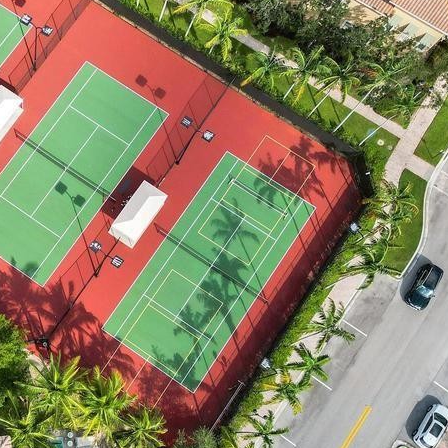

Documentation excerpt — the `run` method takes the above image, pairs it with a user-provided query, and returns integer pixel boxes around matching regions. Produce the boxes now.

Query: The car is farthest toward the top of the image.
[403,263,446,308]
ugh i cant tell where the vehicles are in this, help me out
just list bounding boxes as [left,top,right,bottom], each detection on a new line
[412,405,448,448]
[403,263,446,308]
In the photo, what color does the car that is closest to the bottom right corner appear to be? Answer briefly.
white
